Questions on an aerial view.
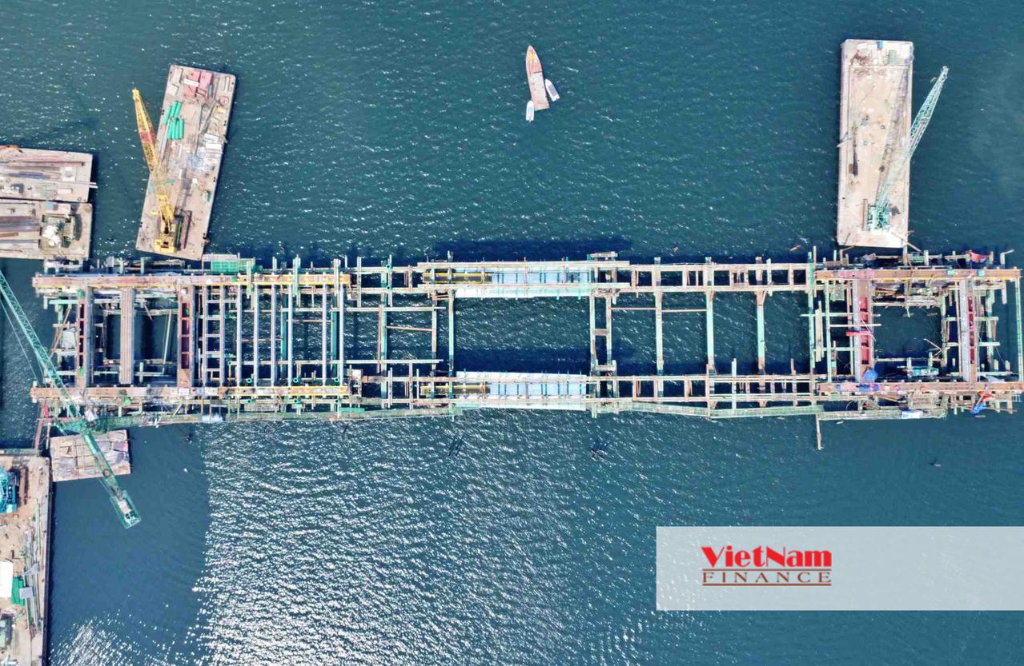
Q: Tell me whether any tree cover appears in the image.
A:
No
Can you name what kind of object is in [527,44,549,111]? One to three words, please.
boat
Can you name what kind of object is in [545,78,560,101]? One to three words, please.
boat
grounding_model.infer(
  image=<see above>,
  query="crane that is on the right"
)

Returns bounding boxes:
[859,62,949,233]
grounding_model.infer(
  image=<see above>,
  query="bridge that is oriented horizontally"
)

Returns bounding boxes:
[30,233,1024,450]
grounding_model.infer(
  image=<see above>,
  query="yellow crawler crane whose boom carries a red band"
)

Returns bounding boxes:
[132,87,187,256]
